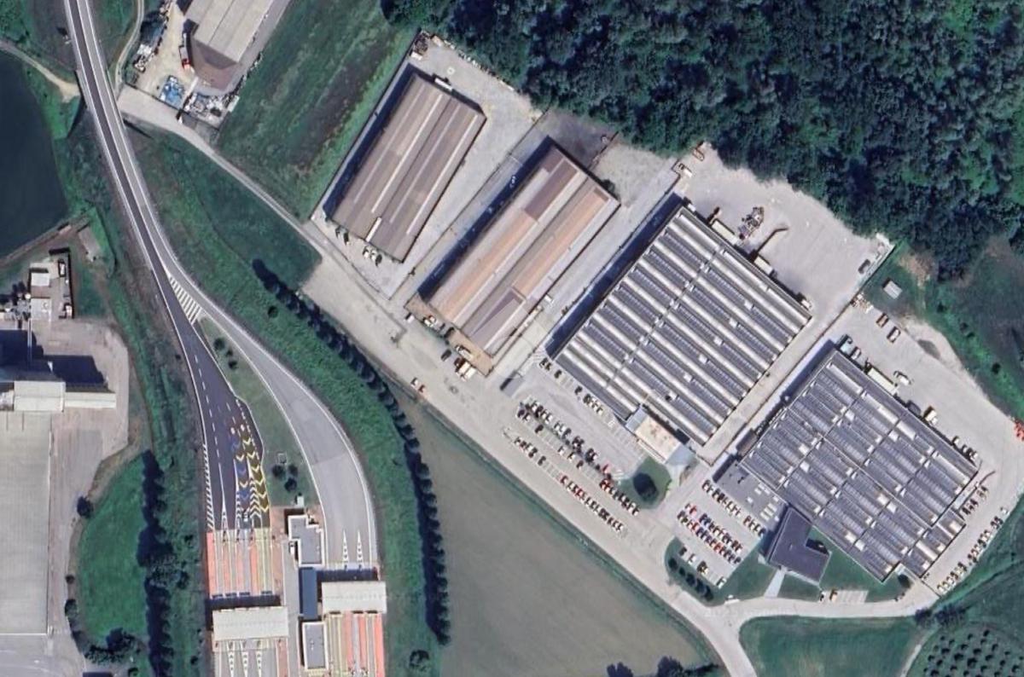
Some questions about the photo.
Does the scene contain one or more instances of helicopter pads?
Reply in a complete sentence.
No, I find no helicopter pad anywhere in the image.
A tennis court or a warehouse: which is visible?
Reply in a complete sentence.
The image shows a warehouse.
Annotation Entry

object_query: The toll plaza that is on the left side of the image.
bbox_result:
[207,511,387,677]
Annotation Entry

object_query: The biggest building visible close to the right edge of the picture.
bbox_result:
[739,349,977,582]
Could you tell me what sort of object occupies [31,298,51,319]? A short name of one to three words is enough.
shed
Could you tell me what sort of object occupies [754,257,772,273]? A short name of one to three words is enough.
vehicle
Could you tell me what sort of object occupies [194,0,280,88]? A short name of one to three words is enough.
building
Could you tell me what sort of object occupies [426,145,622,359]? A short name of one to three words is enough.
warehouse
